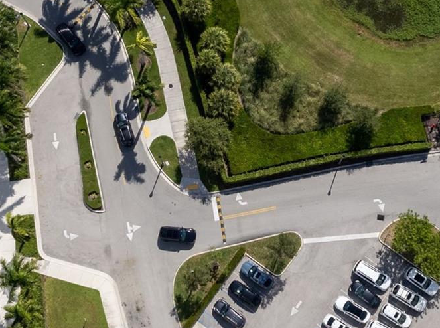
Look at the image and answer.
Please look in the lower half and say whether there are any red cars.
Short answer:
No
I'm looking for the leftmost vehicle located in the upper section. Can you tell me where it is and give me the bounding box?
[55,22,86,53]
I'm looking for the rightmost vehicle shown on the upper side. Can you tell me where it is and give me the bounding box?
[113,110,134,145]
